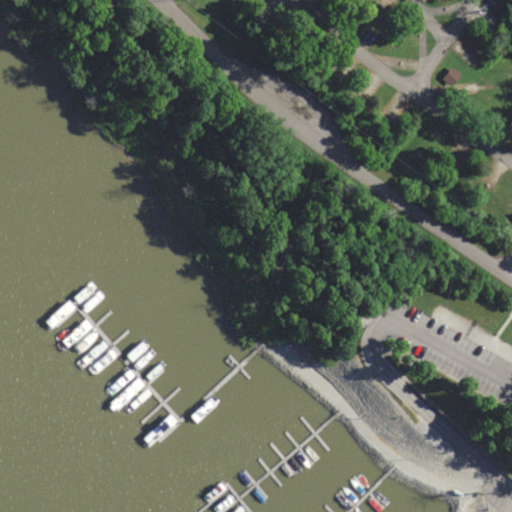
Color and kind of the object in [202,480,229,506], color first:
white boat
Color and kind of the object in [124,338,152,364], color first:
white boat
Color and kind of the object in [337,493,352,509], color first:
gray boat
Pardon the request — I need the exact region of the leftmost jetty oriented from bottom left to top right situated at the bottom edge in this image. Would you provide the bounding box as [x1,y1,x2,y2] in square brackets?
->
[224,414,337,510]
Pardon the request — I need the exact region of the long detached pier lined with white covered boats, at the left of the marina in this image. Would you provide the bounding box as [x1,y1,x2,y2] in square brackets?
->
[76,306,184,444]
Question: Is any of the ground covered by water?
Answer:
Yes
